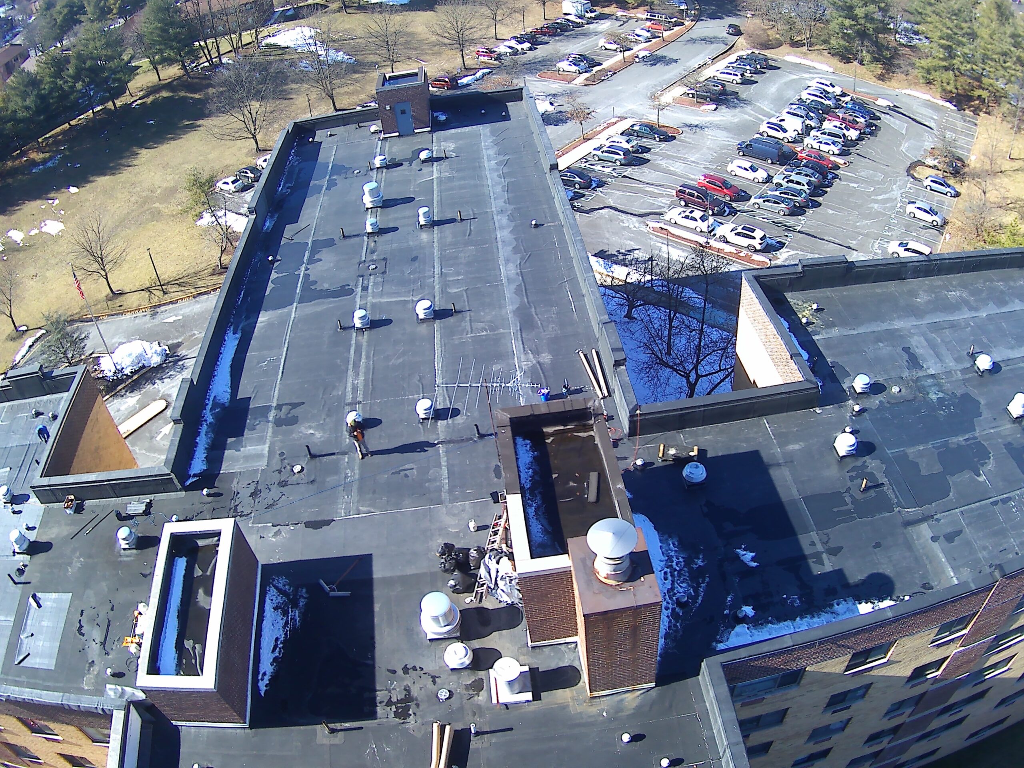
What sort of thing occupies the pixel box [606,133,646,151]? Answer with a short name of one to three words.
car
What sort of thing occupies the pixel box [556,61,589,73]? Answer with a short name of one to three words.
vehicle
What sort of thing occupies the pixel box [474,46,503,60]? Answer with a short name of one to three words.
car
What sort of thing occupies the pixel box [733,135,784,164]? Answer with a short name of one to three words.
vehicle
